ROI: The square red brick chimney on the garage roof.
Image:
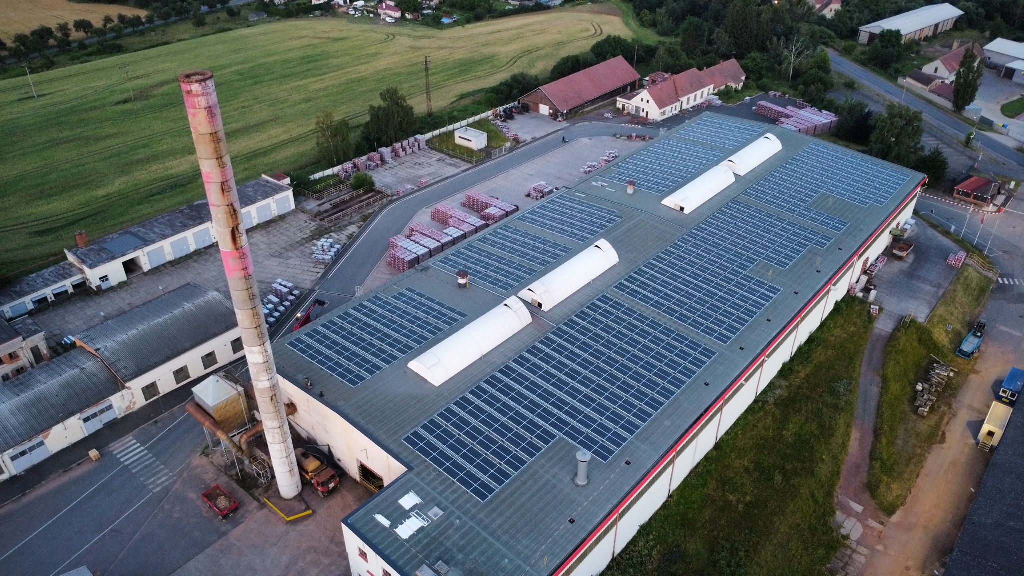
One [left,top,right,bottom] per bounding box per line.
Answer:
[76,231,92,248]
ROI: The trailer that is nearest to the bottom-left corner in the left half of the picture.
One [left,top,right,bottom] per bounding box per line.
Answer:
[201,486,241,524]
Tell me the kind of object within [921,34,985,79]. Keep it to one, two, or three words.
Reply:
house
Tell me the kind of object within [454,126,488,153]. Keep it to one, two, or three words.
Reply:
shed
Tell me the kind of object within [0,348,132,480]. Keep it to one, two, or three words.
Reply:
shed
